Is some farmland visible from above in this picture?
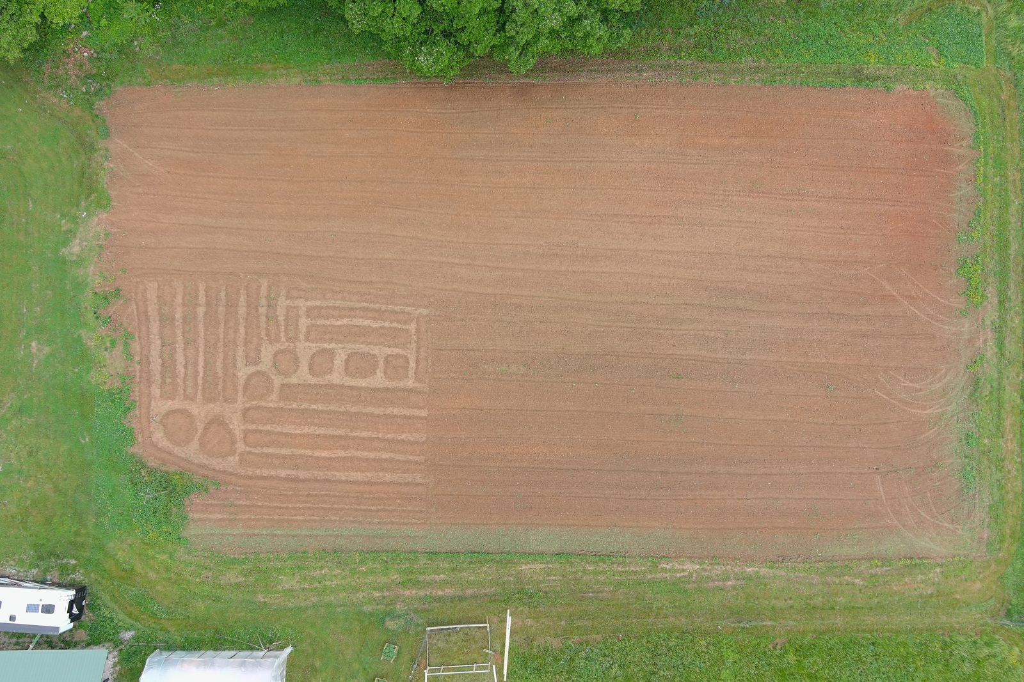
Yes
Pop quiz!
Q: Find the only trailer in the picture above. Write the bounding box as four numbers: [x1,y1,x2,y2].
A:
[0,577,90,636]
